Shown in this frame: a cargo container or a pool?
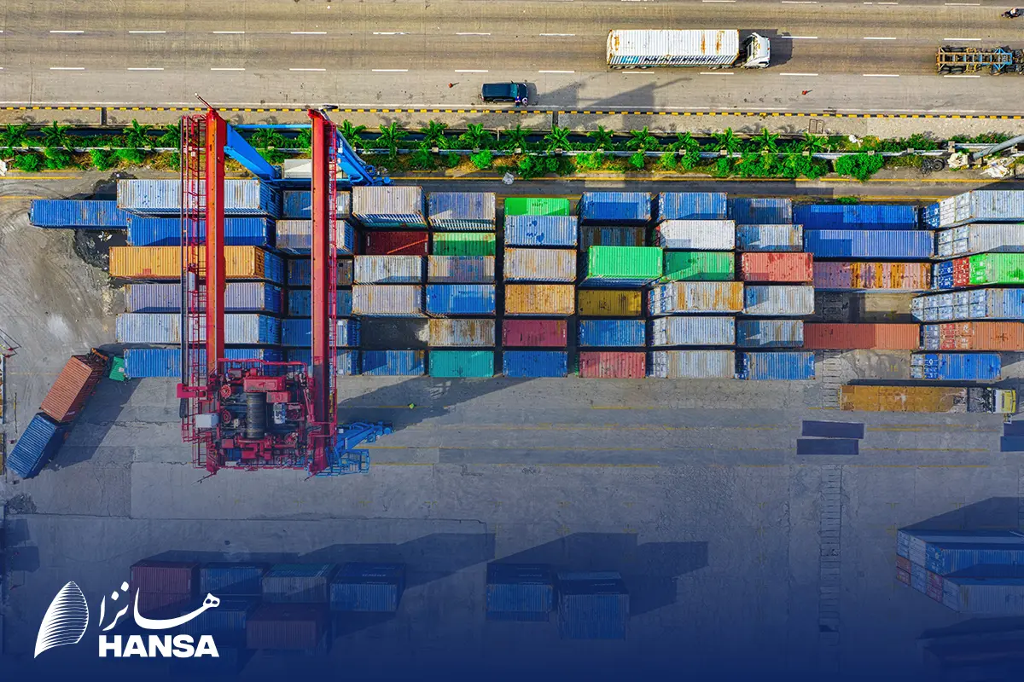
cargo container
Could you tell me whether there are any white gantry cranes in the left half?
No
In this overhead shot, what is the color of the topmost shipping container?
white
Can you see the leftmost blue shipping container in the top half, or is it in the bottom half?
bottom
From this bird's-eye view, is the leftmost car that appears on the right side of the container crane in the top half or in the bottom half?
top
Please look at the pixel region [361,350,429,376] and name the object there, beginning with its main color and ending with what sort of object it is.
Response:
blue shipping container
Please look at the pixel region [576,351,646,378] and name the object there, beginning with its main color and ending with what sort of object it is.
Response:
red shipping container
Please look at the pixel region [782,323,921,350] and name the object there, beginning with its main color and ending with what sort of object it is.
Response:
red shipping container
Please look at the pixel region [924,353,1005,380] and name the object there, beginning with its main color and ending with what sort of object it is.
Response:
blue shipping container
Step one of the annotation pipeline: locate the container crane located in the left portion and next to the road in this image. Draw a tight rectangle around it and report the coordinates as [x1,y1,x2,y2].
[166,88,413,486]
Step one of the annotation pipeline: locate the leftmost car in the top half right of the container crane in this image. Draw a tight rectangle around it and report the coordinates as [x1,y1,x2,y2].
[481,80,529,104]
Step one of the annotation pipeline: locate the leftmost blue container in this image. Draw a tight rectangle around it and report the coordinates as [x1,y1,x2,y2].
[3,411,76,481]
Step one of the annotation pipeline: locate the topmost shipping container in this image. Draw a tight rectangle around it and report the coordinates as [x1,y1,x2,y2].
[604,32,739,71]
